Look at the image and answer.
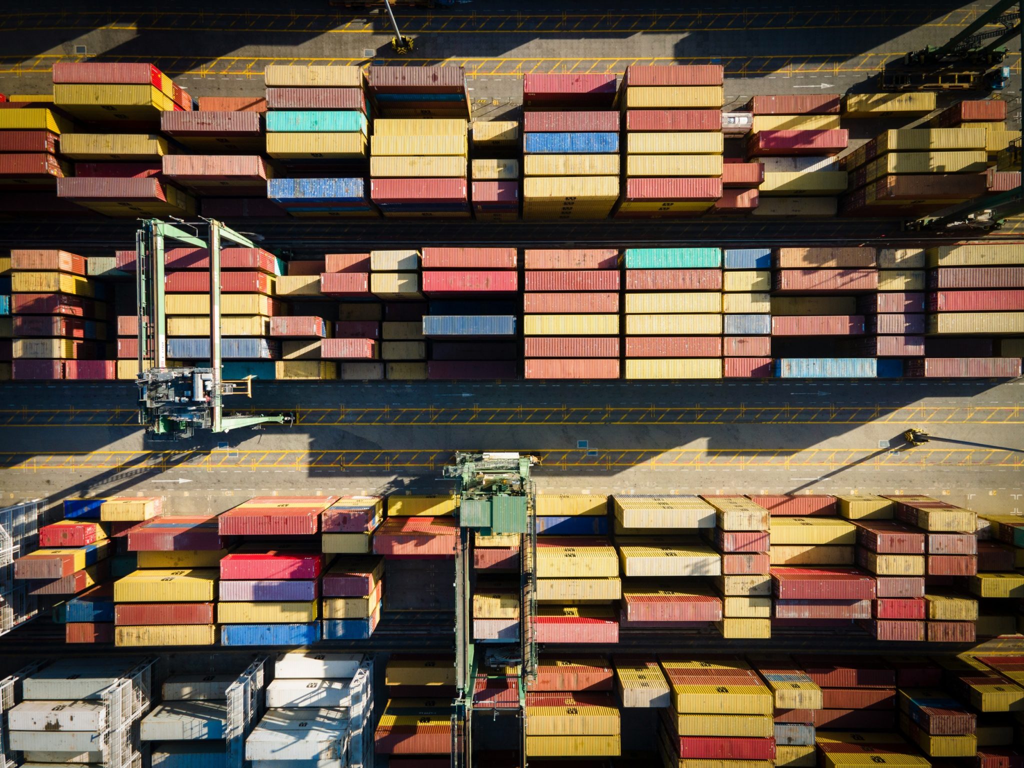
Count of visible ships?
zero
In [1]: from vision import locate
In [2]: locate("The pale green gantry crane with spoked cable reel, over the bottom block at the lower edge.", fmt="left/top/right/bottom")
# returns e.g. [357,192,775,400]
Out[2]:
[449,639,538,768]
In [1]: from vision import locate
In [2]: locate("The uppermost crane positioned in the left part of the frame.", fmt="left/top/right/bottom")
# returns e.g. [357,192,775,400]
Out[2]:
[130,202,294,447]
